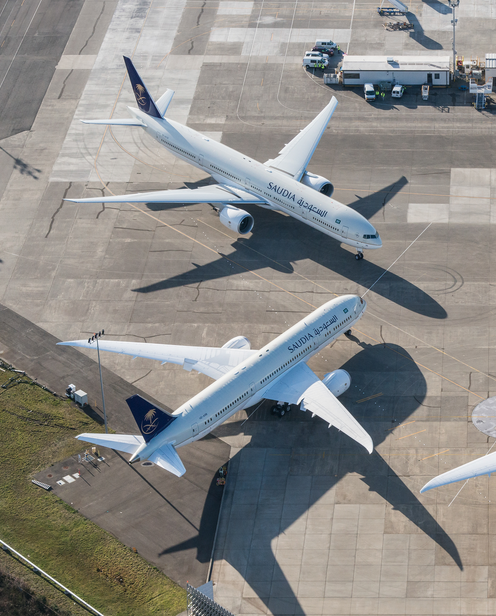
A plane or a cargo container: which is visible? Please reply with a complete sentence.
Looking from above, you can make out a plane.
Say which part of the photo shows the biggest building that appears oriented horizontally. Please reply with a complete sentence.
Look in the top right portion of the view to spot the biggest building that appears oriented horizontally.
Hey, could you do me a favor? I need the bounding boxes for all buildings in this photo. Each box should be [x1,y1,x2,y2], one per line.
[485,56,496,89]
[342,56,454,88]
